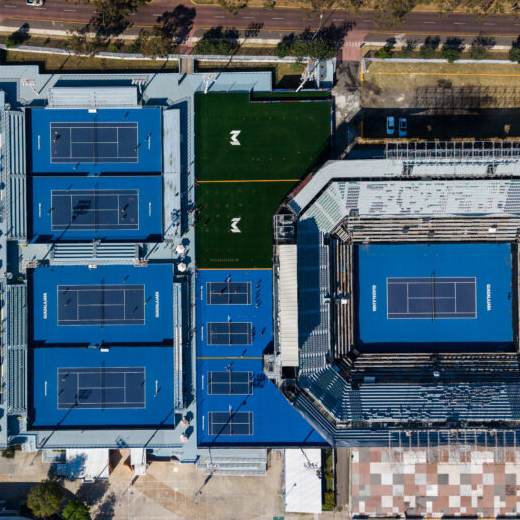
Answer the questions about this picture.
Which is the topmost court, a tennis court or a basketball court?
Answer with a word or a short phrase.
tennis court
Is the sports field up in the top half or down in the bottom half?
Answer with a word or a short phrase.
top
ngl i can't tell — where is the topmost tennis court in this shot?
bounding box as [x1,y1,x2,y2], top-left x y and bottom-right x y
[28,109,163,175]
